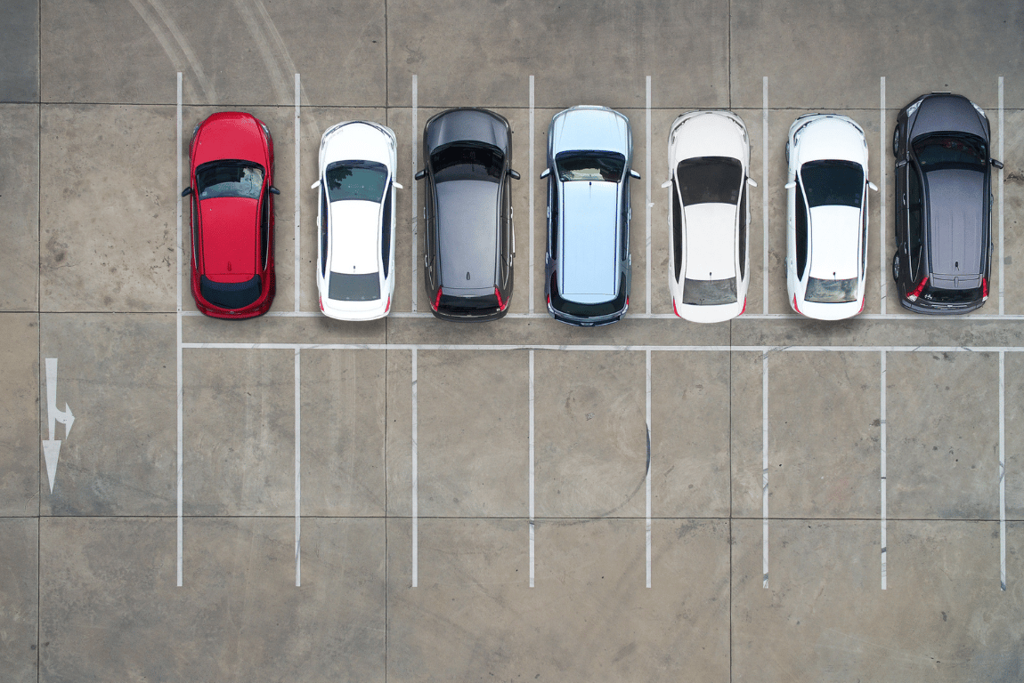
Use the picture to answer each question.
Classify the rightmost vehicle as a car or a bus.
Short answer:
car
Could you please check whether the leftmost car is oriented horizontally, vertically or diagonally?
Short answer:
vertically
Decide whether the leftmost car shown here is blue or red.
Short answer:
red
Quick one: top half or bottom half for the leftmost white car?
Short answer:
top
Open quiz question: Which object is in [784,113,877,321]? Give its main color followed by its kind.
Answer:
white car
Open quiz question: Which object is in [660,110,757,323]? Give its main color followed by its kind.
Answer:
white car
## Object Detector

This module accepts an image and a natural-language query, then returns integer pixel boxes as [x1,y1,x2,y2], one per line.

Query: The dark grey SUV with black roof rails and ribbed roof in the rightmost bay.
[893,93,1002,315]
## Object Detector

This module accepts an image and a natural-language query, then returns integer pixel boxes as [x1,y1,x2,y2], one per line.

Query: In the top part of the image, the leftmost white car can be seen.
[311,121,403,322]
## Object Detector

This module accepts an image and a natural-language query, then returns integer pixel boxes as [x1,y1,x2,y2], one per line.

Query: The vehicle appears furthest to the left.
[182,111,281,321]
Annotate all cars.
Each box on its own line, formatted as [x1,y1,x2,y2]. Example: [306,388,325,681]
[660,110,757,323]
[182,111,281,321]
[893,93,1002,315]
[539,105,640,327]
[311,121,403,322]
[415,108,520,322]
[784,113,877,321]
